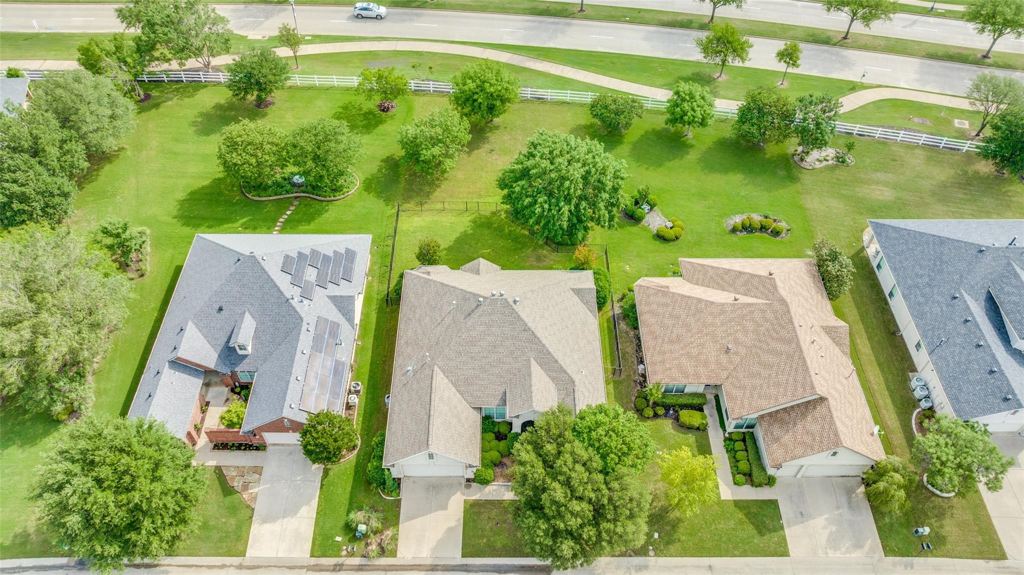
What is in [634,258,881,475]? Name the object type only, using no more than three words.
house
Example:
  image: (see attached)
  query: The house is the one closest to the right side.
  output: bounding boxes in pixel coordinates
[866,219,1024,434]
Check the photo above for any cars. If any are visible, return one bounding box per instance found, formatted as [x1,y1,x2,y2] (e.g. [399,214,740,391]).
[352,3,388,21]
